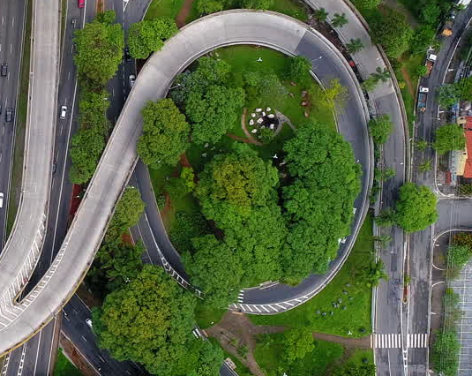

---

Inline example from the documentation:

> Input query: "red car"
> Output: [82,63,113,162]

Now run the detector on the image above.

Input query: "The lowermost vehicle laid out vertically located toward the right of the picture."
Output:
[417,84,430,114]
